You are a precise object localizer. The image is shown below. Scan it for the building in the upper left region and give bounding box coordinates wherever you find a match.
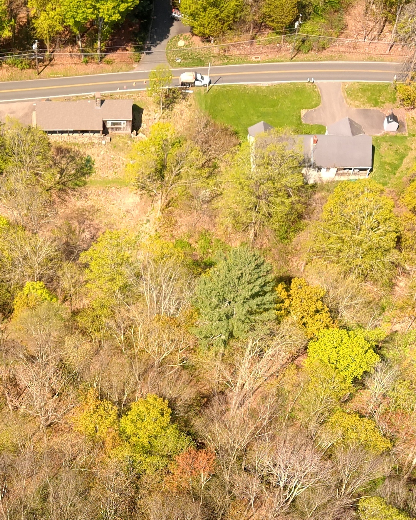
[35,96,133,139]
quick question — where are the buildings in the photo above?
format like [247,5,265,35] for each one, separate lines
[35,96,133,139]
[247,117,373,183]
[382,113,399,133]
